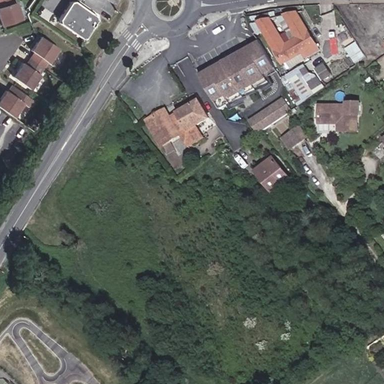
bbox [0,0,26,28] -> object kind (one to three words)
house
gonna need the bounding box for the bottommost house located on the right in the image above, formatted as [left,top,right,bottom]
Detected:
[252,154,288,192]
